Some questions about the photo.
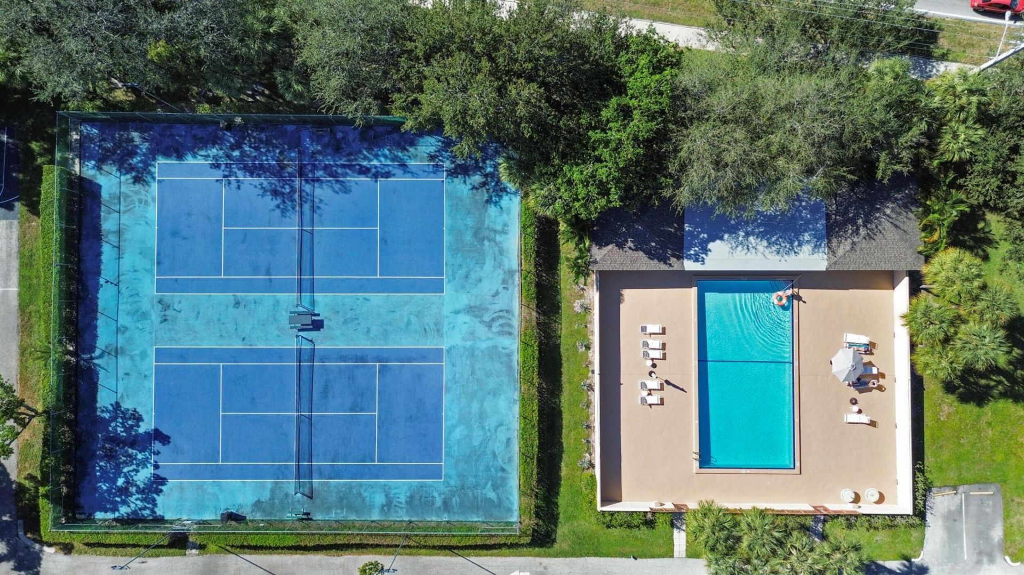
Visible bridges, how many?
none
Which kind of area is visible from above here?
sports ground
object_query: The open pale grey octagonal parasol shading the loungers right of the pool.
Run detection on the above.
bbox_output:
[830,349,862,383]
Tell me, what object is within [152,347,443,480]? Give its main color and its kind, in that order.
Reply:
blue tennis court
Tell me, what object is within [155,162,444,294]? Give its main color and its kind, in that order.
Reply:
blue tennis court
